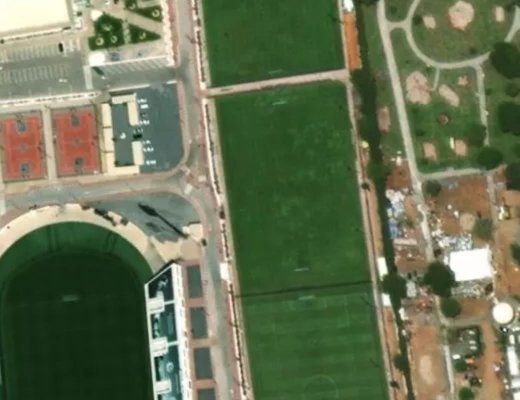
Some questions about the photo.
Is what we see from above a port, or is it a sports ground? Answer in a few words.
sports ground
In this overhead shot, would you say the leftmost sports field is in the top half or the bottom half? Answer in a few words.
bottom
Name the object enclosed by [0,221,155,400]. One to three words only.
sports field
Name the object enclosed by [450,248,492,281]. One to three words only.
building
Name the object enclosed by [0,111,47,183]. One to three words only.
basketball court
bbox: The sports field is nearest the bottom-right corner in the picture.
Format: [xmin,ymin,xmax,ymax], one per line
[241,283,387,400]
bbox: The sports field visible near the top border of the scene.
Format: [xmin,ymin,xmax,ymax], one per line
[202,0,345,86]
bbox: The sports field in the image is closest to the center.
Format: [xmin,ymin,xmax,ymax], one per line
[215,81,372,298]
